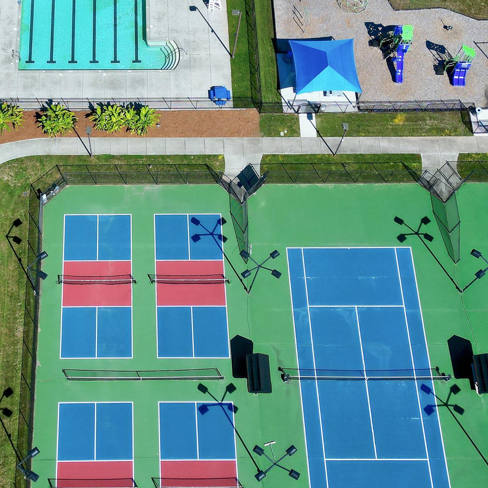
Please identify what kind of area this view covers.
sports ground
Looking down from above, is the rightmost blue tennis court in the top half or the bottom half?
bottom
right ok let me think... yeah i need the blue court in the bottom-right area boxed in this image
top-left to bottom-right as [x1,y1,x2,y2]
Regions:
[287,246,450,488]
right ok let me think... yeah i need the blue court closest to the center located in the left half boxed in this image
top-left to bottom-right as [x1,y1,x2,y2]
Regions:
[154,213,230,358]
